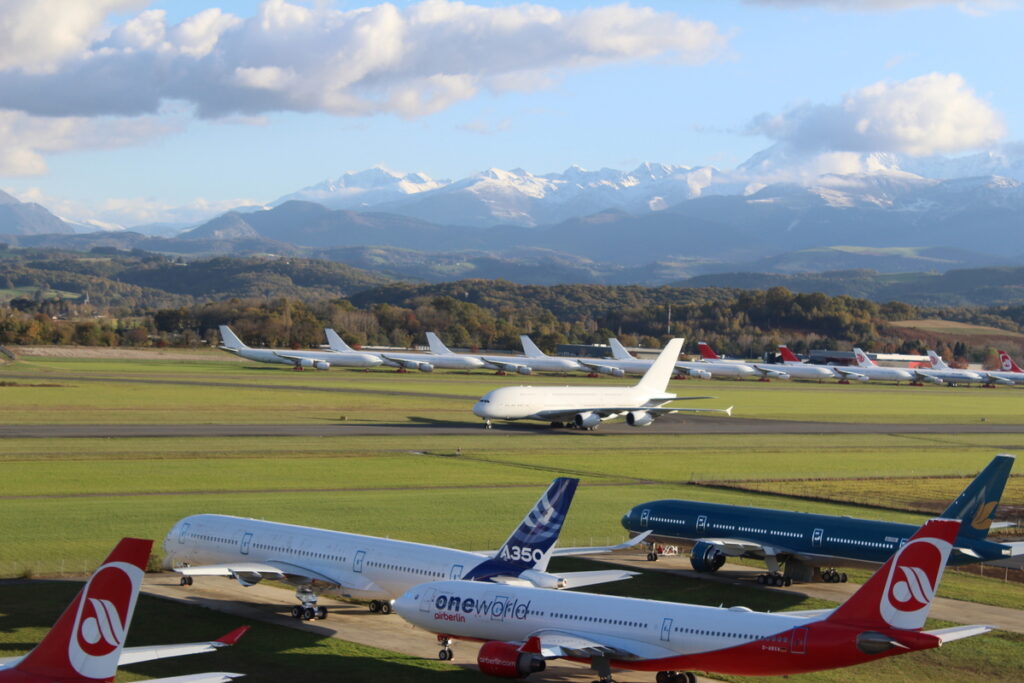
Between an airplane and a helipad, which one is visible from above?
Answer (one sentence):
Of the two, only an airplane appears.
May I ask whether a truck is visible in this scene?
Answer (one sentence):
No, there is no truck in the image.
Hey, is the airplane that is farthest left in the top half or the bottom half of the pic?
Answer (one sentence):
It is in the bottom half that the airplane that is farthest left appears.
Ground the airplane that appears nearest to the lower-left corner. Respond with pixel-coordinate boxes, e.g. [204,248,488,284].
[0,543,256,683]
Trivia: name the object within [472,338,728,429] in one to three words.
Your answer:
airplane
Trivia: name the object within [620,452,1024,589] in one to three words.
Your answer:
airplane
